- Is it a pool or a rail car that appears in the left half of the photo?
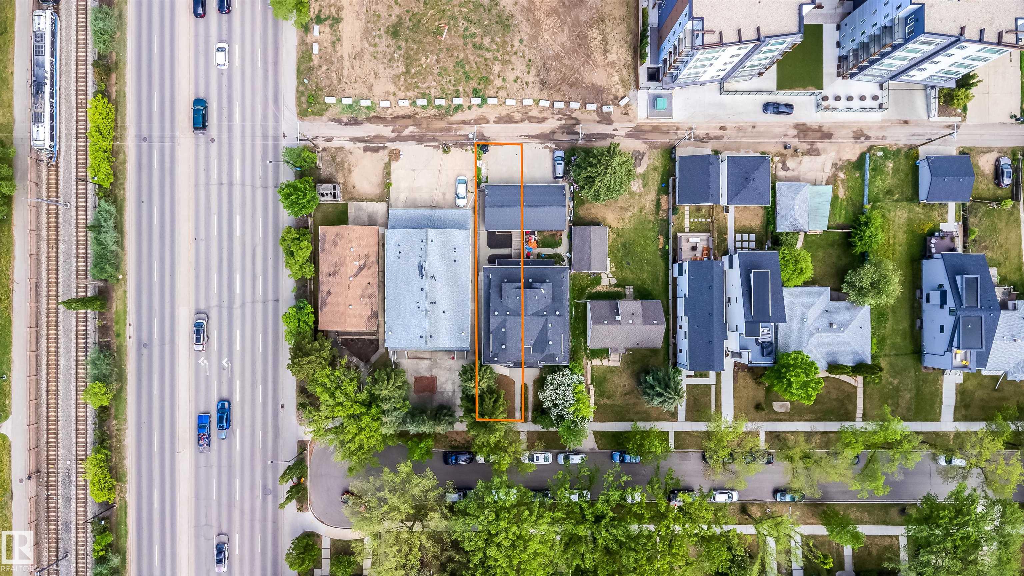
rail car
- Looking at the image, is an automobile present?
Yes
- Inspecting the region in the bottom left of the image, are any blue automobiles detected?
Yes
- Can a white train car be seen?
Yes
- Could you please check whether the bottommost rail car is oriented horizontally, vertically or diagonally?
vertically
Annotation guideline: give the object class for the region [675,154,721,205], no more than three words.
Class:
building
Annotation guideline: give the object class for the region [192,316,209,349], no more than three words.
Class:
car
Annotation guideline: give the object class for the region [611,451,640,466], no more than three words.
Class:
car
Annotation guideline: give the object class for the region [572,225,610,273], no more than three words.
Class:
shed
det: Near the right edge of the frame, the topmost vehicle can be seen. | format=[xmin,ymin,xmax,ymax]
[994,157,1013,188]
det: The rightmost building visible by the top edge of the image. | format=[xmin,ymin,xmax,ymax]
[840,0,1024,91]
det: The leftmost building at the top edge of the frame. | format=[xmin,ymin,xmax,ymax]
[656,0,816,91]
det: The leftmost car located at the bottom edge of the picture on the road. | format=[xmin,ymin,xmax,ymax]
[213,536,230,570]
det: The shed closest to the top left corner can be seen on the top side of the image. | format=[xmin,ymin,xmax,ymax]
[316,183,339,202]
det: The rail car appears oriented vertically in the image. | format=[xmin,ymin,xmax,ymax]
[29,5,58,165]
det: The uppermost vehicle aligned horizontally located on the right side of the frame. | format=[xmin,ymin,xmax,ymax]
[762,101,794,116]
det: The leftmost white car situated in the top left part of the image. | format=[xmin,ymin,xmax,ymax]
[215,43,230,70]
